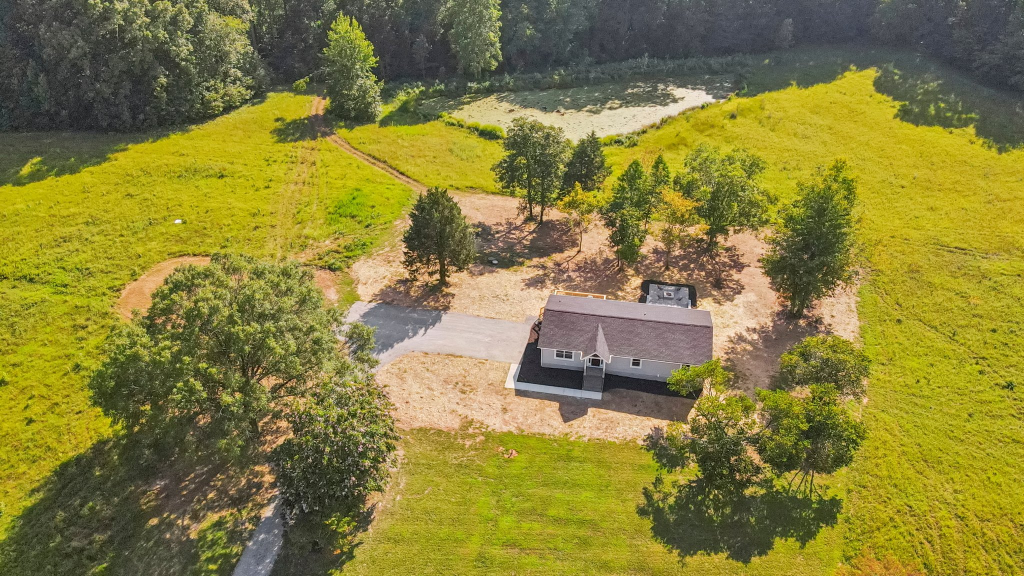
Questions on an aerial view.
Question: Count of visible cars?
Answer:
none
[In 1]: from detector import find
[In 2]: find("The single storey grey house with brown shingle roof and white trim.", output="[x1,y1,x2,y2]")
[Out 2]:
[538,295,713,390]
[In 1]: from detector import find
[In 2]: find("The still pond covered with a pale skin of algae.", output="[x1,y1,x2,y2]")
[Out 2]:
[428,79,740,148]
